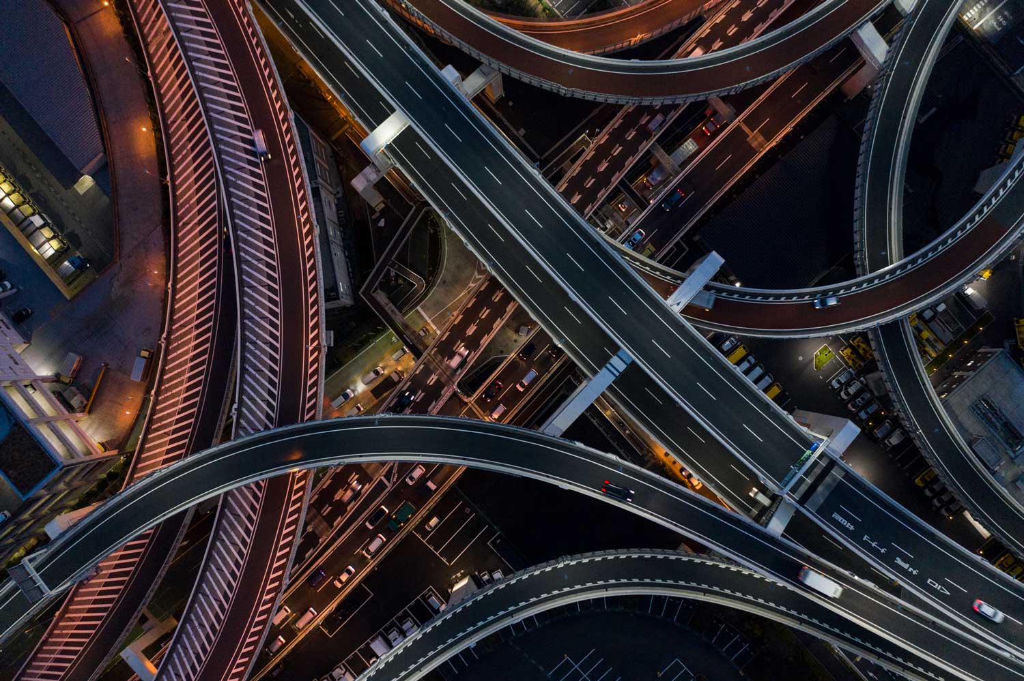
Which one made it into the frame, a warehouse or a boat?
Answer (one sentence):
This aerial view contains a warehouse.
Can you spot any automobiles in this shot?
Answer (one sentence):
Yes, I can see an automobile in this picture.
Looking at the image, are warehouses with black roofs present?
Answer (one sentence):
Yes, there's a warehouse with a black roof here.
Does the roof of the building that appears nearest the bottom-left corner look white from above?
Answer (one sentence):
No, from above the roof of the building that appears nearest the bottom-left corner looks black.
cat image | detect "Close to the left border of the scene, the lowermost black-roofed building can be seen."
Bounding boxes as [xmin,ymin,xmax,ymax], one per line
[0,384,84,499]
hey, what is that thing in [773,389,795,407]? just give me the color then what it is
black vehicle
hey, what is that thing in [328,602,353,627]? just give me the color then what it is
black car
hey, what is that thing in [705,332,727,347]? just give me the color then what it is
black car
